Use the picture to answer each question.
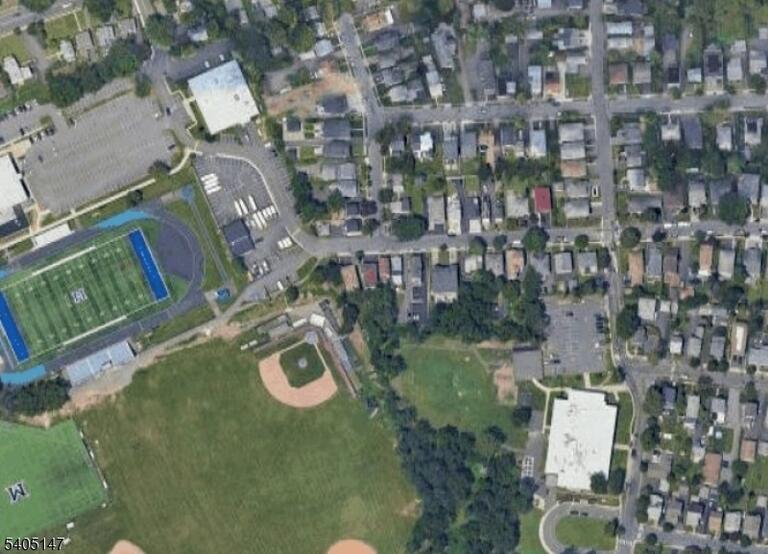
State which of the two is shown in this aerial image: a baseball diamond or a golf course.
baseball diamond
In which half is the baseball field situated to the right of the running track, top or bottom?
bottom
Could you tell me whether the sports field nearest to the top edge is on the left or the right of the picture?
left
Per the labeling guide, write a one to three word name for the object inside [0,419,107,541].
sports field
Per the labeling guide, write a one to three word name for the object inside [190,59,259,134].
building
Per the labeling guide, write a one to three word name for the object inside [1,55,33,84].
house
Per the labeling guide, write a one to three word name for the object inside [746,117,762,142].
house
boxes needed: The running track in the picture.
[0,209,206,385]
